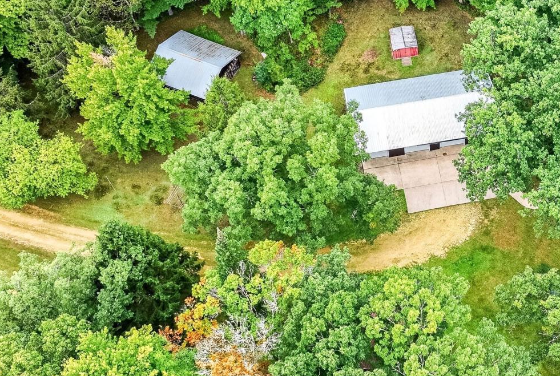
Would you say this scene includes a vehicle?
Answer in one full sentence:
No, there is no vehicle in the image.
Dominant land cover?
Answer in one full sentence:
The bulk of the photo consists of trees.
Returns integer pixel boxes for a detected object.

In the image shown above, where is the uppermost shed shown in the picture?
[388,22,419,59]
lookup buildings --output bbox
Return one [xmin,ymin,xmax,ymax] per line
[343,66,503,161]
[151,29,246,104]
[388,22,419,59]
